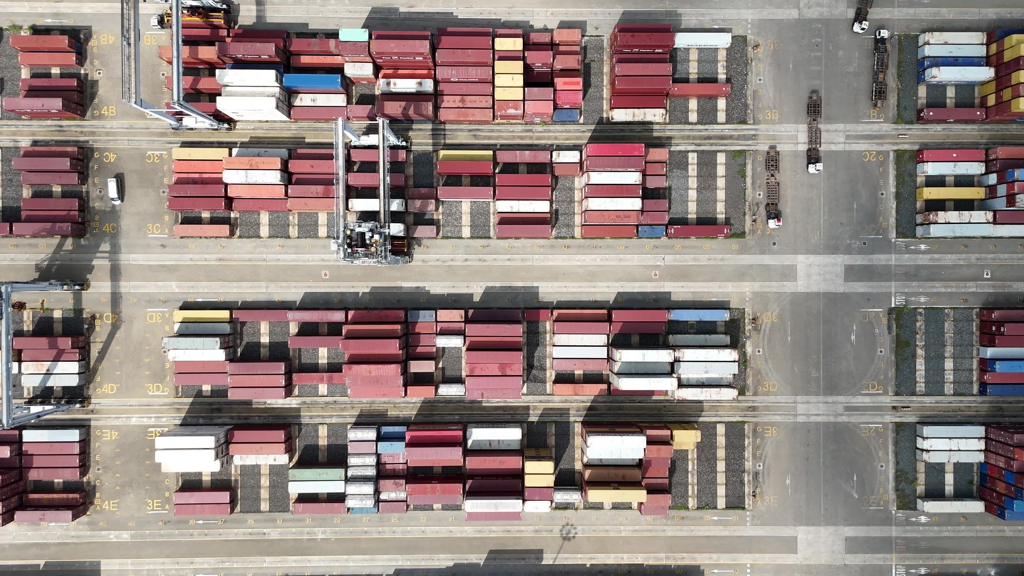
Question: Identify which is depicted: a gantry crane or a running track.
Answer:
gantry crane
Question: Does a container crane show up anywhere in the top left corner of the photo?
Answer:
Yes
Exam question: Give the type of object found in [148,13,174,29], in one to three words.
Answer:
vehicle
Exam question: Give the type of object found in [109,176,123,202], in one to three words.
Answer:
vehicle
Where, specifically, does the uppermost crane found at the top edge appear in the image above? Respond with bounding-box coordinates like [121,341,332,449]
[118,0,239,131]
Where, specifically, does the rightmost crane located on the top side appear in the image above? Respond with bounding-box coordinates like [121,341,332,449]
[326,118,419,264]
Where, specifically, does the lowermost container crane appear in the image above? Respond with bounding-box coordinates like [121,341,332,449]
[0,282,91,427]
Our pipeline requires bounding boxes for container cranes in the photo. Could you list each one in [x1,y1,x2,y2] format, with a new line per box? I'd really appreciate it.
[326,118,419,264]
[118,0,239,131]
[0,282,91,427]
